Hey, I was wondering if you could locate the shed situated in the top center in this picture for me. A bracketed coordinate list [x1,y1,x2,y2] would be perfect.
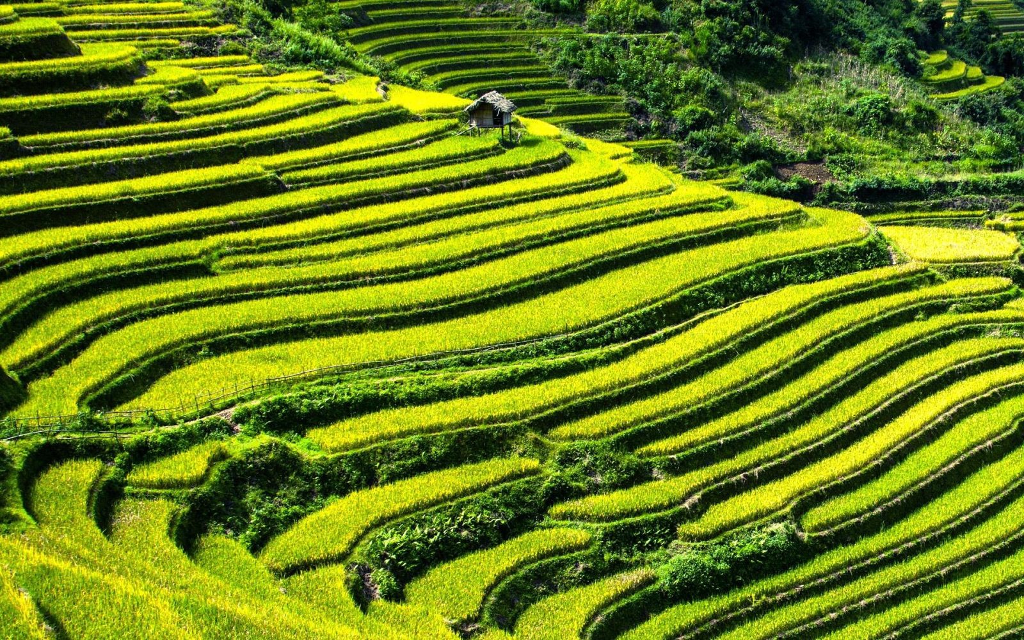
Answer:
[466,89,516,141]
